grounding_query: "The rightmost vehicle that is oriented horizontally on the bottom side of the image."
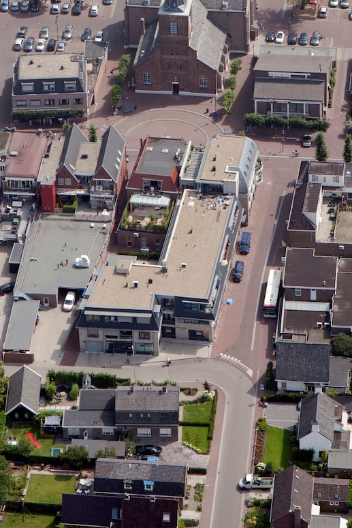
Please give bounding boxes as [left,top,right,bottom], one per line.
[238,474,274,491]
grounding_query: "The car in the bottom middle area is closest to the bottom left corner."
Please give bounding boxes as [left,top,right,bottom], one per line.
[135,444,162,457]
